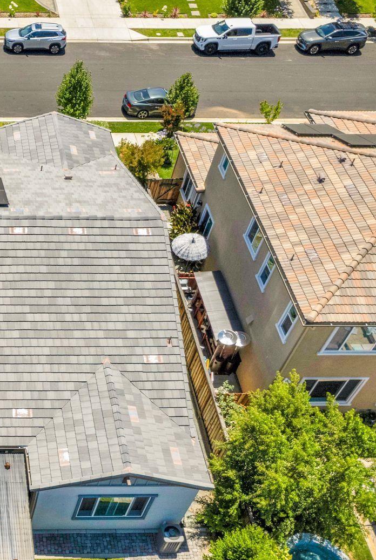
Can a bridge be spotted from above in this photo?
No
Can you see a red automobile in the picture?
No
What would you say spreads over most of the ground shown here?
buildings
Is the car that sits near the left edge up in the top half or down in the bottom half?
top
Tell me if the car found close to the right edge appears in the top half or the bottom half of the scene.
top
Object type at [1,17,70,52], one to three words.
car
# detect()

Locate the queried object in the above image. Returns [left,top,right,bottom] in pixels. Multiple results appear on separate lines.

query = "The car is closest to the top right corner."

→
[293,16,373,53]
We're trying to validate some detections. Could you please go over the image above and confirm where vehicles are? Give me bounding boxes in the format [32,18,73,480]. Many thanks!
[188,14,285,54]
[1,17,70,52]
[293,16,373,53]
[118,83,202,118]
